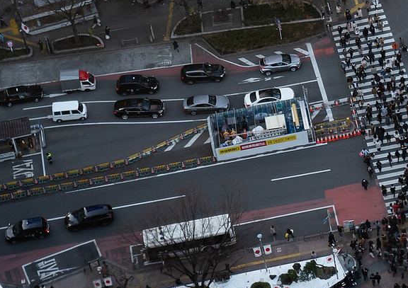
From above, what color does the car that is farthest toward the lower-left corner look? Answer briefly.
black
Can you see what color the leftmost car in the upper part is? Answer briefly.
black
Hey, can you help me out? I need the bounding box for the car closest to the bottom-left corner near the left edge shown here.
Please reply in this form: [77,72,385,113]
[2,213,52,241]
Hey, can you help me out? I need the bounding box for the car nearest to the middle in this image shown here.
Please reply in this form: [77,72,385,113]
[181,91,231,115]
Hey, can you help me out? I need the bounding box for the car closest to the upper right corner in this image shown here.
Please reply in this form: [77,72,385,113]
[255,50,303,75]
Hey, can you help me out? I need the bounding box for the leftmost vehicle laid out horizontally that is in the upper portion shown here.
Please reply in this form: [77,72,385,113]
[0,82,45,106]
